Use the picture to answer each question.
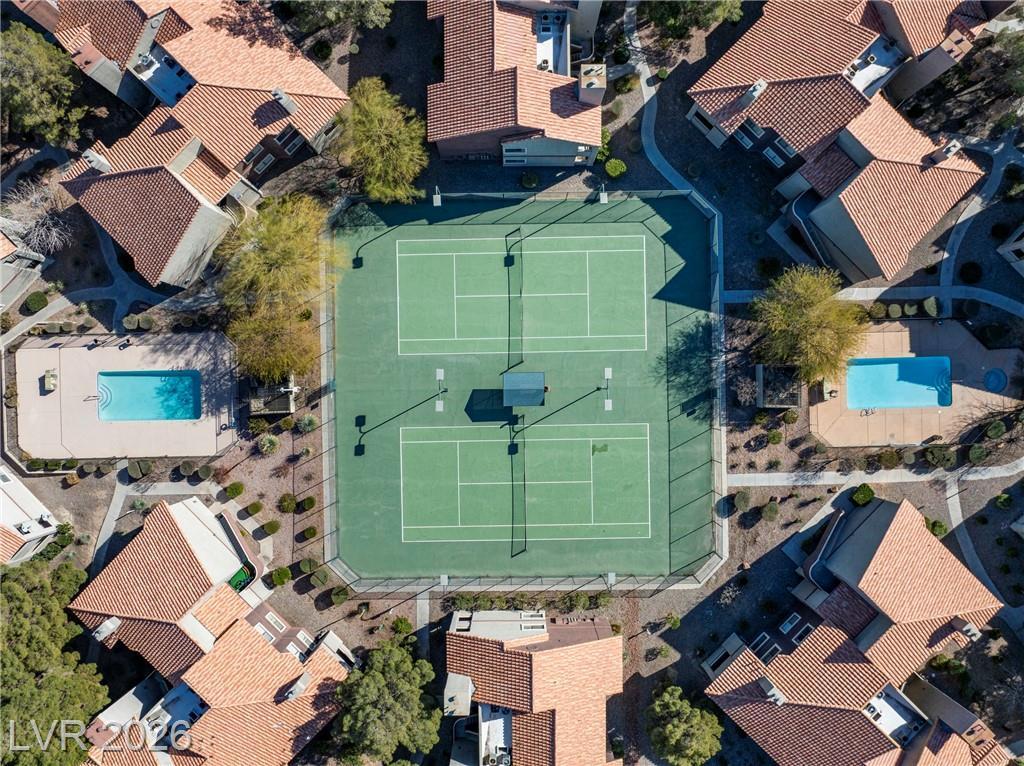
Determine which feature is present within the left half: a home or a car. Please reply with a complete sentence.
There is a home within the left half.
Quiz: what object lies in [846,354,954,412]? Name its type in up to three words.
swimming pool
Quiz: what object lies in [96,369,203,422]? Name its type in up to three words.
swimming pool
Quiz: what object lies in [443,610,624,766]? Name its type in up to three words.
house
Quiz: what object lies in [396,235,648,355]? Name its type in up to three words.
tennis court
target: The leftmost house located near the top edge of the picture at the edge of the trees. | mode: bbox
[15,0,356,290]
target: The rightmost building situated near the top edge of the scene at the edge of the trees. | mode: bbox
[677,0,991,284]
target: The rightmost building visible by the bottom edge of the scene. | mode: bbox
[692,498,1011,766]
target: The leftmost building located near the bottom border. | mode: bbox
[68,495,362,766]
